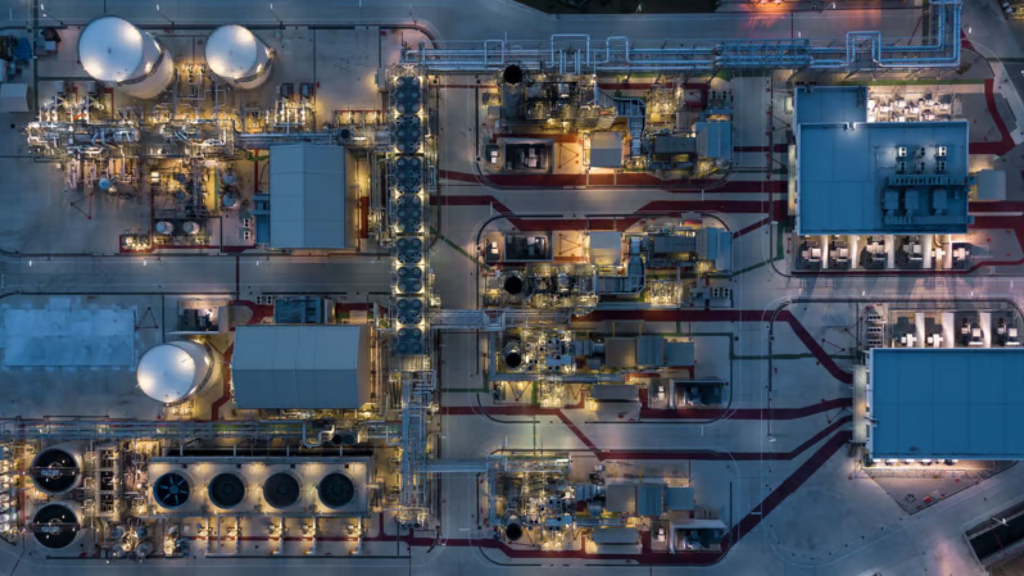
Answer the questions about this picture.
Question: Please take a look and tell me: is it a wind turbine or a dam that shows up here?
wind turbine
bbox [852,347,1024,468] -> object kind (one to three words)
building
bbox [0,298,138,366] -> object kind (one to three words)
shed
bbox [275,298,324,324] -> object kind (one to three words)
house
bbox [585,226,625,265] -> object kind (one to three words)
building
